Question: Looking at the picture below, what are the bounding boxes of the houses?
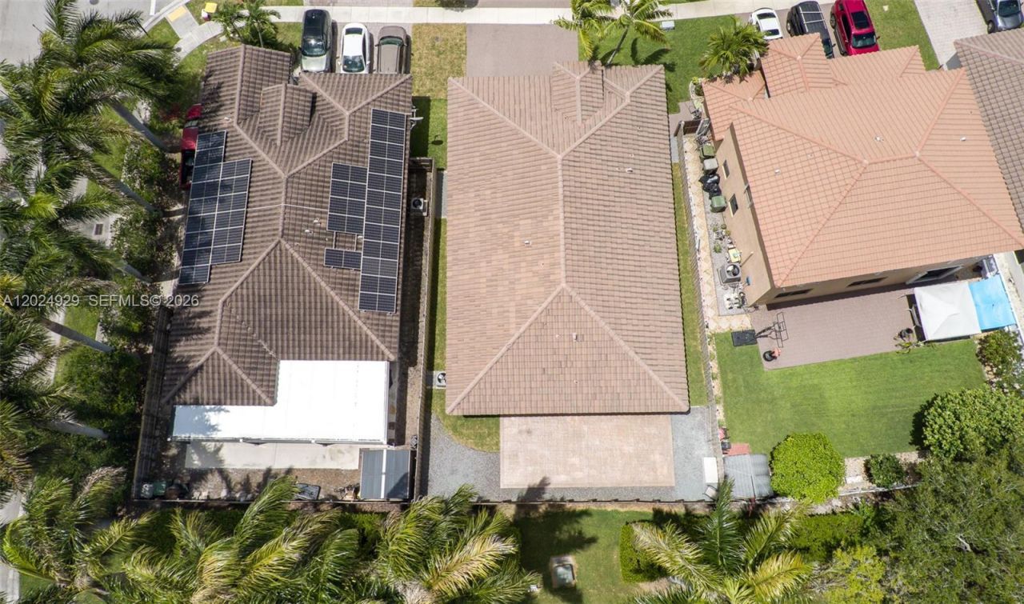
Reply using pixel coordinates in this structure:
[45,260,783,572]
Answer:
[443,59,692,417]
[700,31,1024,303]
[161,43,413,406]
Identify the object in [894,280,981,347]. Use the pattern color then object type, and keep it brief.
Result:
white gazebo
